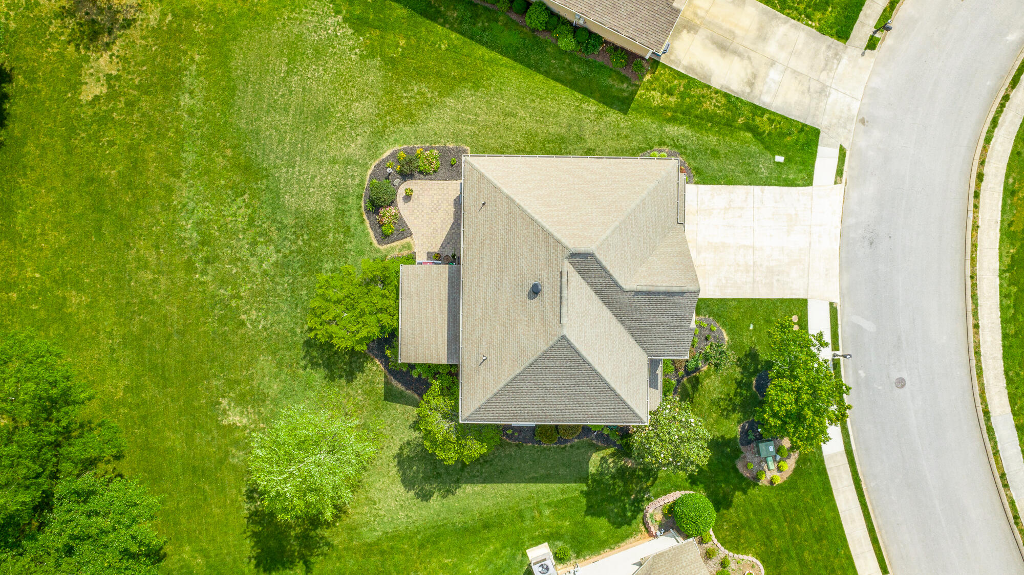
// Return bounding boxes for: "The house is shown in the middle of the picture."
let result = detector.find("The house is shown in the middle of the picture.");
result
[398,156,700,425]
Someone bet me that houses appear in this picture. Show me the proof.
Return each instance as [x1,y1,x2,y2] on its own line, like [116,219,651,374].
[556,530,711,575]
[398,156,700,425]
[529,0,687,59]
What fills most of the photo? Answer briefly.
grass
